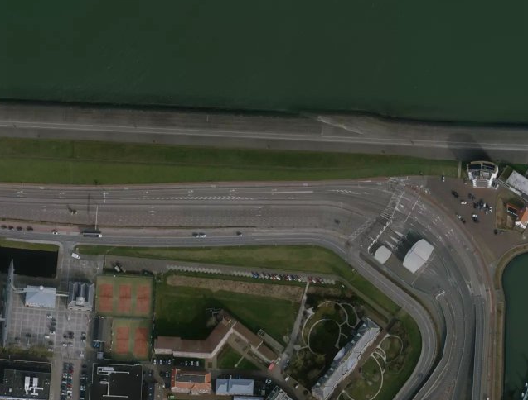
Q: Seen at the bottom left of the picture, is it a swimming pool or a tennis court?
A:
tennis court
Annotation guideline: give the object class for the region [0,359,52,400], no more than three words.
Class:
building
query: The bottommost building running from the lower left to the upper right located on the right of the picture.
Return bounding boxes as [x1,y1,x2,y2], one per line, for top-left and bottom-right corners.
[312,318,381,400]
